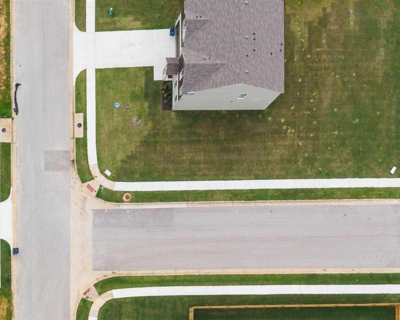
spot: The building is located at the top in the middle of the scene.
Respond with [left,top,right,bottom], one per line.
[161,0,283,109]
